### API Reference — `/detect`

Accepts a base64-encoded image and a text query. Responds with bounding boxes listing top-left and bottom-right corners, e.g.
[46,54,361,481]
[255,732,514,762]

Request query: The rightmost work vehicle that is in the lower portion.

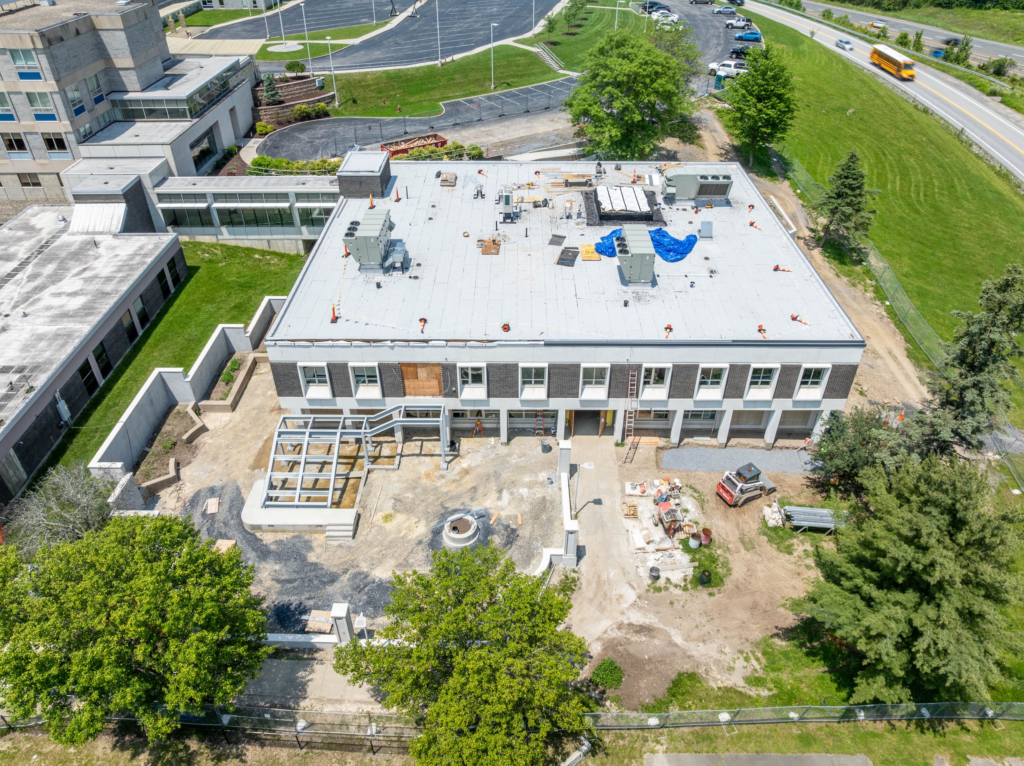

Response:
[715,458,782,508]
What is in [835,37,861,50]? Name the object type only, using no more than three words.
vehicle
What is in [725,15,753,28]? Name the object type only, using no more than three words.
vehicle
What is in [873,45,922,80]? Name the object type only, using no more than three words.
bus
